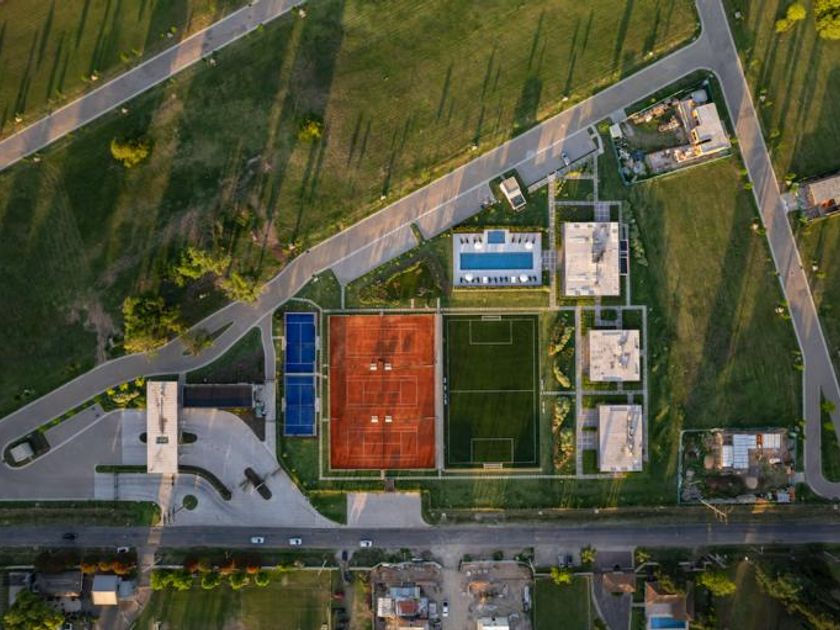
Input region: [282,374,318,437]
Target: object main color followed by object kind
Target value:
blue sports court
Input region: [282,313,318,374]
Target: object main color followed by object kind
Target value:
blue sports court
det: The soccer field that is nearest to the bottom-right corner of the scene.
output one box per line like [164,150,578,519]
[443,313,543,473]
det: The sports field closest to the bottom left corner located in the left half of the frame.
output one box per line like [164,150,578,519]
[143,570,330,630]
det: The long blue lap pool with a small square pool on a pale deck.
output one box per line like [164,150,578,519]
[453,231,541,286]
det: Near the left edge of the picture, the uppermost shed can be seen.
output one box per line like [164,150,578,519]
[11,441,39,463]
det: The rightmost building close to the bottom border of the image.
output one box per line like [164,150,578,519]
[646,582,694,622]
